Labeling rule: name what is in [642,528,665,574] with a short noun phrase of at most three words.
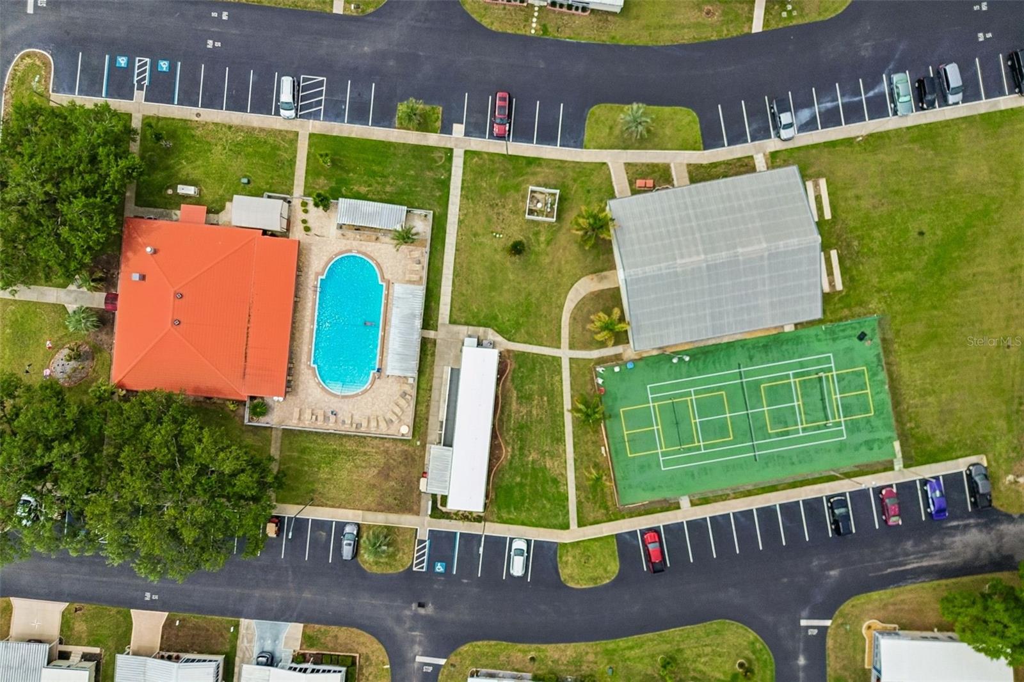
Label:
truck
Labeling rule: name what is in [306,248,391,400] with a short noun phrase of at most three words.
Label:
swimming pool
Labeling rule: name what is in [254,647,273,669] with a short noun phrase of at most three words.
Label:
car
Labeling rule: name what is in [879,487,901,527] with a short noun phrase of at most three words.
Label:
car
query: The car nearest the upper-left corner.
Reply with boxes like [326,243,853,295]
[277,76,297,119]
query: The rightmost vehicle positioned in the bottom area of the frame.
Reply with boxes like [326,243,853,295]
[966,463,993,510]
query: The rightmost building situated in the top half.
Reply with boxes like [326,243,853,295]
[605,165,823,352]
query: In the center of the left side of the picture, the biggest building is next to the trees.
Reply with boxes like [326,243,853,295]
[91,205,303,401]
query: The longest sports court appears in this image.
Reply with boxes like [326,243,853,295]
[595,317,896,506]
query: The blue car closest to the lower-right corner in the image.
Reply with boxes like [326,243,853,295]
[923,478,947,521]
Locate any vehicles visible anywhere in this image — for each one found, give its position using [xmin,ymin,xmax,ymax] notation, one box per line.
[966,463,993,510]
[772,98,795,142]
[879,487,901,527]
[27,639,43,645]
[341,522,360,561]
[642,528,665,574]
[1005,47,1024,97]
[915,75,938,111]
[510,537,528,578]
[923,478,947,521]
[938,62,963,105]
[254,647,273,669]
[266,516,282,539]
[889,72,914,116]
[827,494,852,537]
[277,76,297,119]
[491,93,510,138]
[418,471,428,494]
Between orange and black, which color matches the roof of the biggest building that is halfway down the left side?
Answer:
orange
